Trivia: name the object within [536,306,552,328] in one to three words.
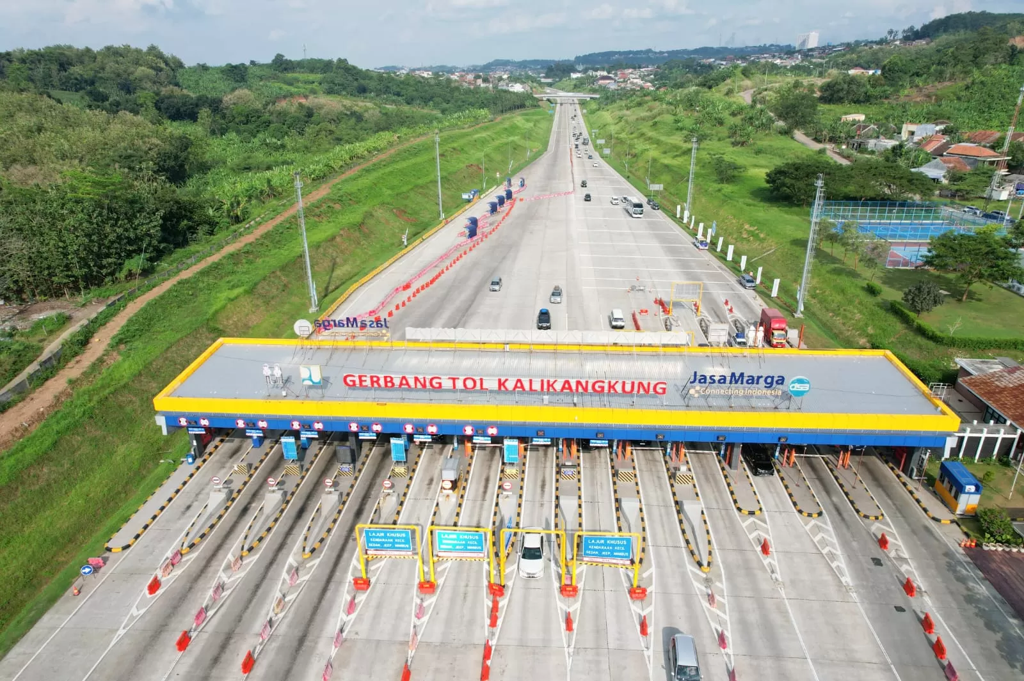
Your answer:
car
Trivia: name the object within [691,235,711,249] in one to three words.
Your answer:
vehicle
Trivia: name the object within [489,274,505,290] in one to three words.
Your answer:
car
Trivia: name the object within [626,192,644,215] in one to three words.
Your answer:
vehicle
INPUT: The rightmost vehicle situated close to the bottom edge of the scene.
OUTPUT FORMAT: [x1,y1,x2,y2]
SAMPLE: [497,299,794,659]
[664,622,707,681]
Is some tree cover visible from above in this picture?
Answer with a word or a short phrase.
Yes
